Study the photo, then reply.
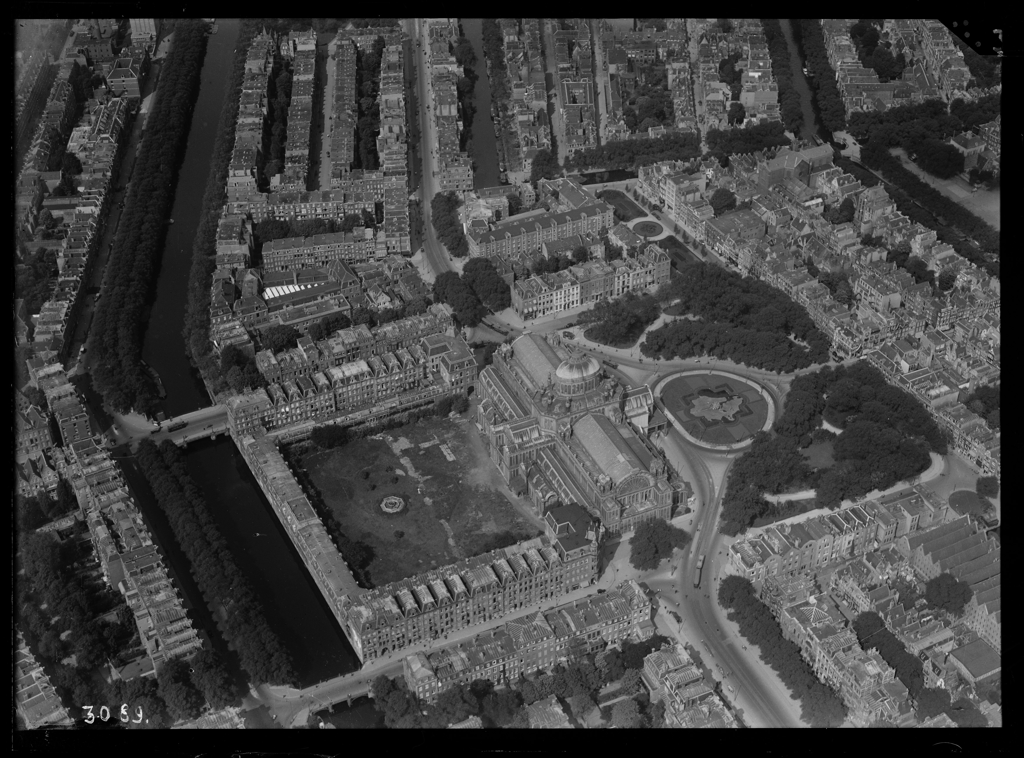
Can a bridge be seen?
Yes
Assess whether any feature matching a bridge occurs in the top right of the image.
Yes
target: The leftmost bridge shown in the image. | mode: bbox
[157,403,230,446]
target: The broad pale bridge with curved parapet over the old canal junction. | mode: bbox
[830,131,865,173]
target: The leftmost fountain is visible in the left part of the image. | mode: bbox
[380,495,404,513]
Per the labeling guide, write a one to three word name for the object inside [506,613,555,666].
house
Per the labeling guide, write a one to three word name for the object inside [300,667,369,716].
bridge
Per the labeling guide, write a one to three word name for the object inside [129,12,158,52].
building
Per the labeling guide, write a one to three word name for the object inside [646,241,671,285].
house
